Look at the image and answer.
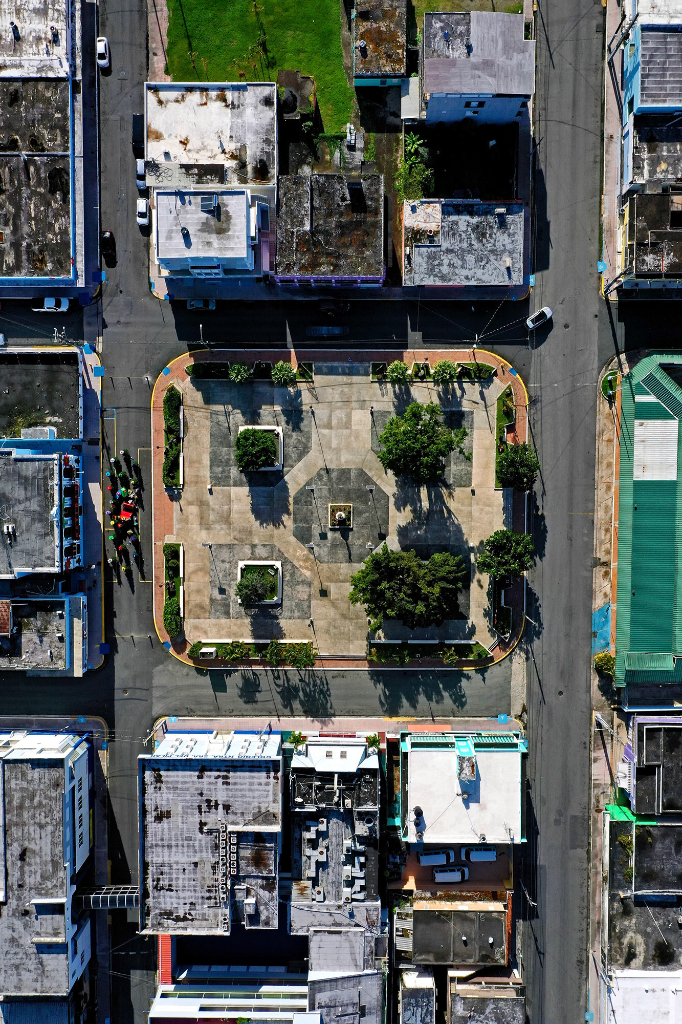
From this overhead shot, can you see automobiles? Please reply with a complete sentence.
Yes, the image includes an automobile.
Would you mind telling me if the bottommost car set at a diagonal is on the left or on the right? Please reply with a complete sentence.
The bottommost car set at a diagonal sits on the right side.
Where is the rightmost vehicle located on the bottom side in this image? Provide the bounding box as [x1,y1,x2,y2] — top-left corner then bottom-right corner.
[460,843,496,862]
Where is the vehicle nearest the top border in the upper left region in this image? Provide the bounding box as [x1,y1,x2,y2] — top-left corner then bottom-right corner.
[94,35,111,69]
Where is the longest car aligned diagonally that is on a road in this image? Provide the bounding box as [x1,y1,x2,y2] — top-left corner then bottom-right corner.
[525,307,555,332]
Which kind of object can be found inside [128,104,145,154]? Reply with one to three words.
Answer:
vehicle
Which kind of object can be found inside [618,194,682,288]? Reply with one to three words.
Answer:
building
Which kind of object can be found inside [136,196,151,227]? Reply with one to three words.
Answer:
car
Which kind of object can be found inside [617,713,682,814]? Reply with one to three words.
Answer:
house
